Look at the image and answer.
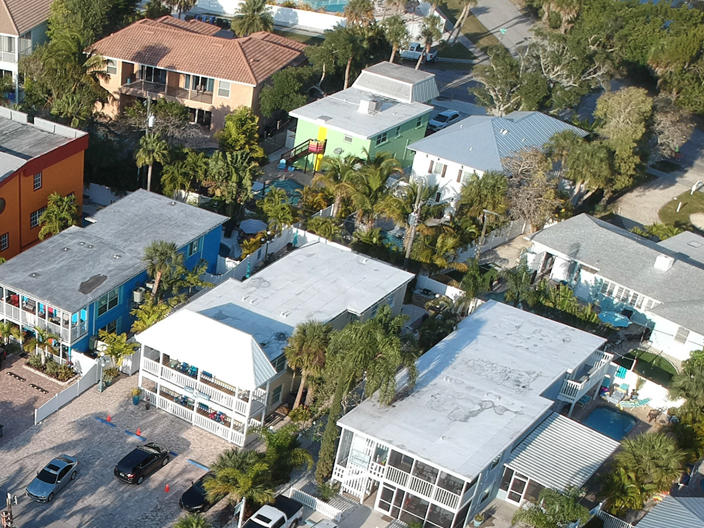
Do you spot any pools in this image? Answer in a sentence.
Yes, there is a pool in the image.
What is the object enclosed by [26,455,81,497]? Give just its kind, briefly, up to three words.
car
